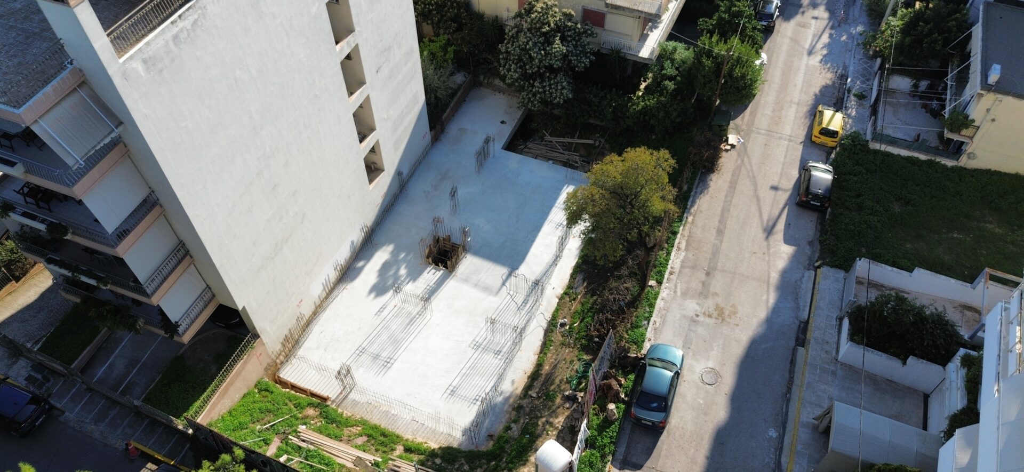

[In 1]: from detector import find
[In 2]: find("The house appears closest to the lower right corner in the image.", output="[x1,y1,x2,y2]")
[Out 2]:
[949,301,1024,472]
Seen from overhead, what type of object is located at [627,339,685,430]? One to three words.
car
